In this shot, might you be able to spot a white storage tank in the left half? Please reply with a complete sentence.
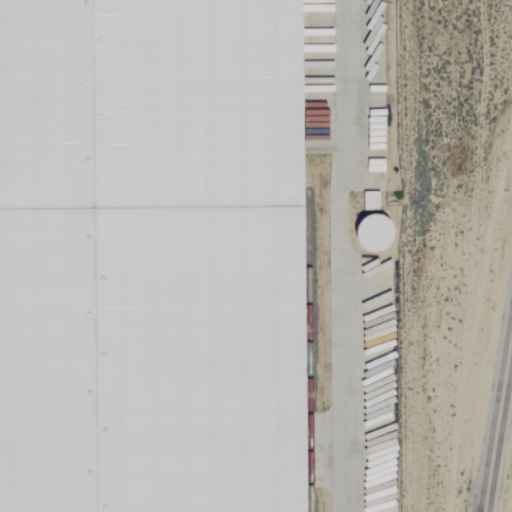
No, no white storage tank appears in the left half.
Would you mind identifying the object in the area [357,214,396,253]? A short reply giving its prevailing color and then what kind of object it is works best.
white storage tank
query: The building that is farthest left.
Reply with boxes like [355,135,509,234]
[0,0,309,512]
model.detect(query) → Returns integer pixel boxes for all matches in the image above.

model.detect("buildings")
[366,192,382,209]
[0,0,309,512]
